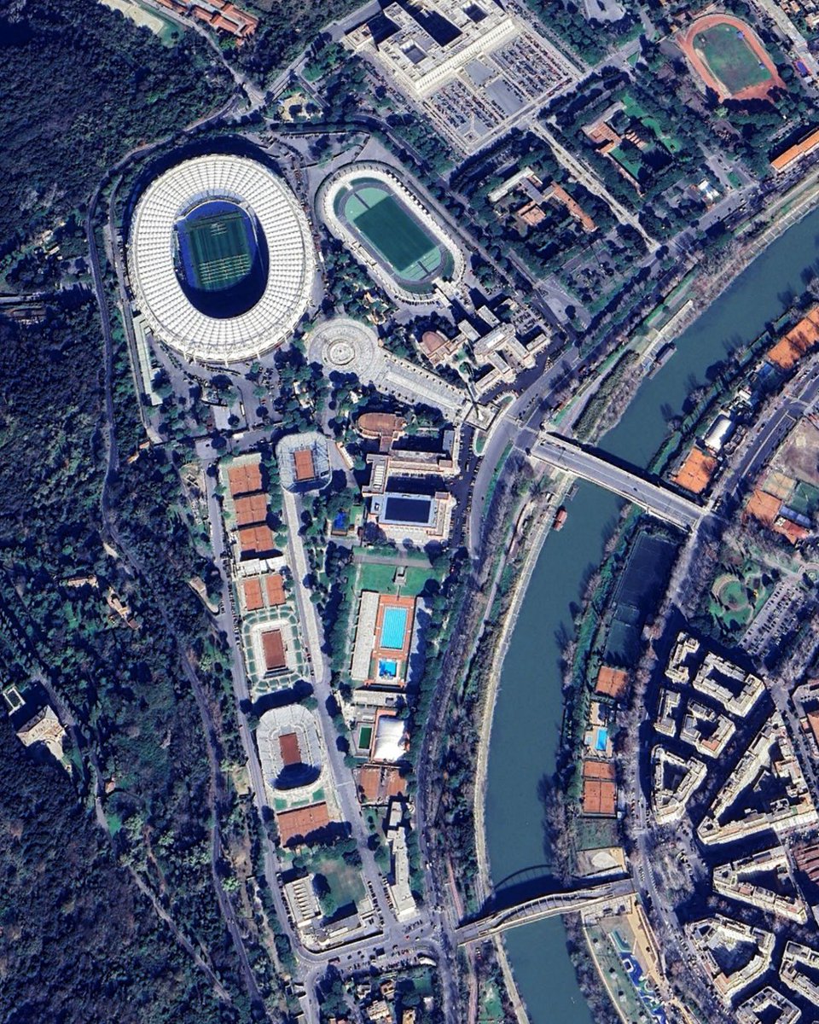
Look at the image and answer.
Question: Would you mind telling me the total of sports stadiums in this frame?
5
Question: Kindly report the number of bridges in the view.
two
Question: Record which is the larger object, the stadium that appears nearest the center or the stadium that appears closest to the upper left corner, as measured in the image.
the stadium that appears closest to the upper left corner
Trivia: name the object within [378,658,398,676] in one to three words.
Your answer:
swimming pool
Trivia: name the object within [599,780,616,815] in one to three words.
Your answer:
tennis court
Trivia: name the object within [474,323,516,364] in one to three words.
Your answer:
building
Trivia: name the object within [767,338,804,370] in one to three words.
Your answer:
tennis court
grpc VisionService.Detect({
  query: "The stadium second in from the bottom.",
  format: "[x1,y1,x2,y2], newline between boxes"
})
[245,608,311,691]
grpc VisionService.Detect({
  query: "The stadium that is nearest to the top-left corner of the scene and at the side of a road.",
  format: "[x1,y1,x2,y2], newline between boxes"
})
[128,154,317,364]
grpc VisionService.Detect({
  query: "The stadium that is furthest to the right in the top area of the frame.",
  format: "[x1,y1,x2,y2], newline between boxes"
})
[315,152,474,312]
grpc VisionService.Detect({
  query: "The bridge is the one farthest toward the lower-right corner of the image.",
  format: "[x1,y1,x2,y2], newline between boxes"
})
[455,879,636,945]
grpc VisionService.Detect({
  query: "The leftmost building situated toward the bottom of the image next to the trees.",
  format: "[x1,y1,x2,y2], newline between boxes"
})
[16,703,67,745]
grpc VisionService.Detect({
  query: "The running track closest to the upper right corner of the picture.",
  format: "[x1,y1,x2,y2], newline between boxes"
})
[678,11,786,102]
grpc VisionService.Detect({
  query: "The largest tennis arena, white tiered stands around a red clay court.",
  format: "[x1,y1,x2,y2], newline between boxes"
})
[257,703,324,796]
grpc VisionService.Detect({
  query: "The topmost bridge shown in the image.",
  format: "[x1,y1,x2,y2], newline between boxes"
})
[520,428,715,538]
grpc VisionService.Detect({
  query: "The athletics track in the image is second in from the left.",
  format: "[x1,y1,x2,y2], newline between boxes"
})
[334,171,455,293]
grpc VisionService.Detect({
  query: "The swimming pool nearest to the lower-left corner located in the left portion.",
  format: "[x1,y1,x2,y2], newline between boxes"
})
[8,685,25,711]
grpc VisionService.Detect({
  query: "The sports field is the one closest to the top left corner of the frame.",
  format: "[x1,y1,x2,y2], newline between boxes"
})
[182,206,260,308]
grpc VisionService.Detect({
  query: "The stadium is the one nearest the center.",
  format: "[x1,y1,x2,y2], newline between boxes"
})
[277,432,332,495]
